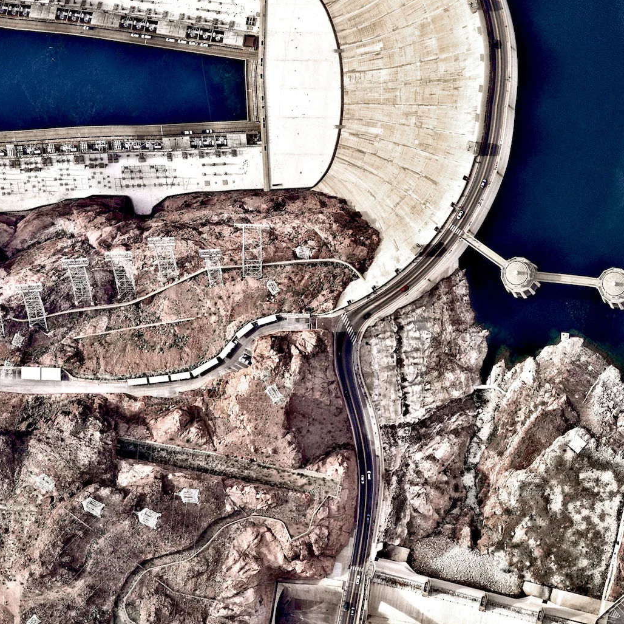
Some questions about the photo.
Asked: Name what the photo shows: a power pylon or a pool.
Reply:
power pylon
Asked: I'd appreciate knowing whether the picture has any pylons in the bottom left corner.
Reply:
Yes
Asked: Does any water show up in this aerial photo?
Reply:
Yes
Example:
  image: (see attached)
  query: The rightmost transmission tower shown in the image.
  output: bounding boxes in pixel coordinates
[294,244,312,265]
